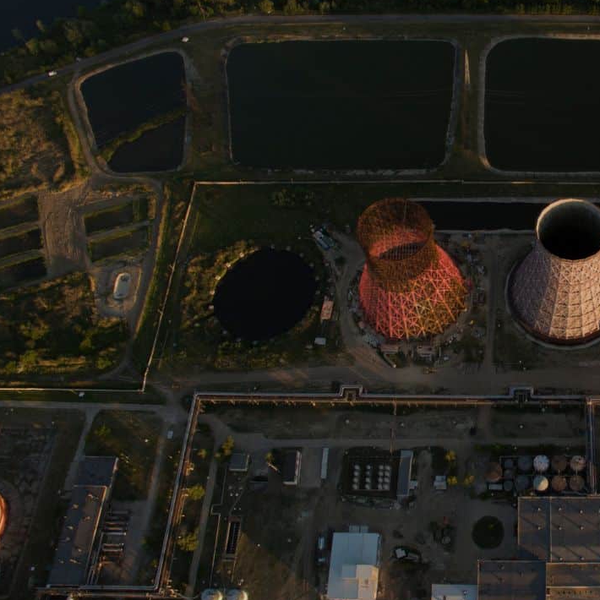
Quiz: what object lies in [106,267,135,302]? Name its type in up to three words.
storage tank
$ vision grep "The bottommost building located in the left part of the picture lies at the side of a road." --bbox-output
[49,486,112,586]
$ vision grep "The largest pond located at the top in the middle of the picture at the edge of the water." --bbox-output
[230,44,454,169]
